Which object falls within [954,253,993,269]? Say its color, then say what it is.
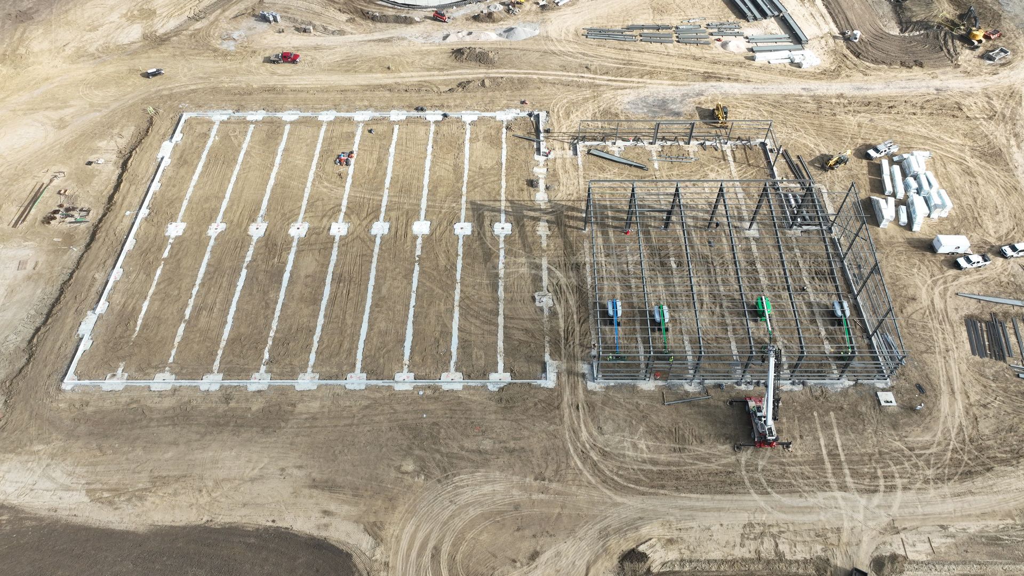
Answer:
white vehicle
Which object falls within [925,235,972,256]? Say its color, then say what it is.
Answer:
white trailer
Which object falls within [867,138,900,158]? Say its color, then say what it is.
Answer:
white vehicle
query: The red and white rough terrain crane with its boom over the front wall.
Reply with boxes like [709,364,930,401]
[726,350,793,454]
